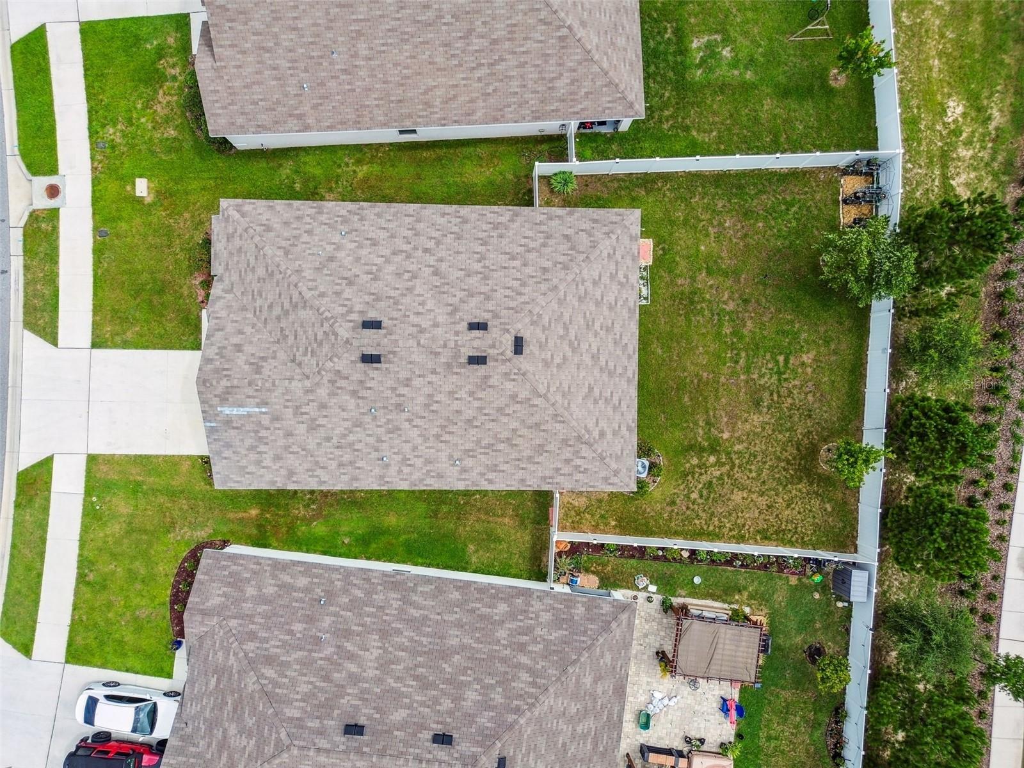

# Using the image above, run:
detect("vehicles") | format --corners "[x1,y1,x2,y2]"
[78,680,181,741]
[65,730,167,768]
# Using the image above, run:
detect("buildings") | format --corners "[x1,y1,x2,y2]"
[196,199,642,491]
[195,0,644,150]
[832,562,869,603]
[159,545,637,768]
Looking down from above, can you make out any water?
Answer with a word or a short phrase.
No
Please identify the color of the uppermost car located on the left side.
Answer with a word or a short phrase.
white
